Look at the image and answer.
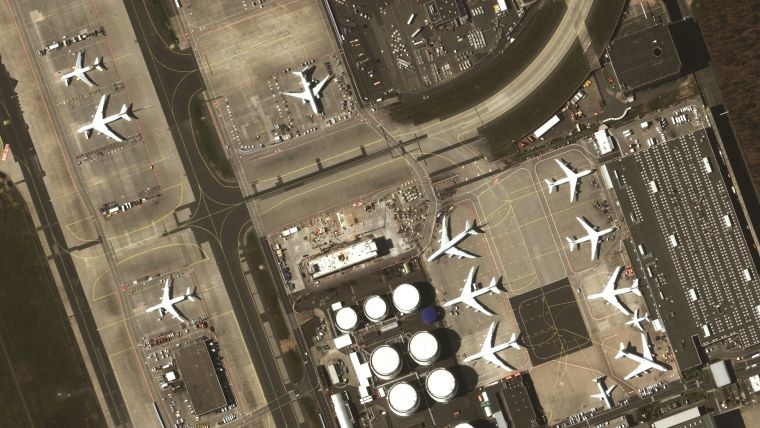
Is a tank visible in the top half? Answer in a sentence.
No, there's no tank to be seen in the top half.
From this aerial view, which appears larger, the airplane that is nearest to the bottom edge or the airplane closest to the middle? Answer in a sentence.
The airplane that is nearest to the bottom edge is smaller than the airplane closest to the middle.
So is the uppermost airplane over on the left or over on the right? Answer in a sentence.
The uppermost airplane sits on the left side.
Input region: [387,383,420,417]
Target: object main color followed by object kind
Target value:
white storage tank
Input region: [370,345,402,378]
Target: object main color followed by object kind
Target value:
white storage tank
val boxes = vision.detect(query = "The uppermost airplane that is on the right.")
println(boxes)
[543,157,593,202]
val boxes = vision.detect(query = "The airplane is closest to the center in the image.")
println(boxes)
[427,214,482,262]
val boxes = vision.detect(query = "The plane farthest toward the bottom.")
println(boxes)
[591,375,618,408]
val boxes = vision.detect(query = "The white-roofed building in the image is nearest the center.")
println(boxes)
[309,241,379,279]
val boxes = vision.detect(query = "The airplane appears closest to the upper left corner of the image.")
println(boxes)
[63,50,105,86]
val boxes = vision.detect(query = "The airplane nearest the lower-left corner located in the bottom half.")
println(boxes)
[146,278,196,324]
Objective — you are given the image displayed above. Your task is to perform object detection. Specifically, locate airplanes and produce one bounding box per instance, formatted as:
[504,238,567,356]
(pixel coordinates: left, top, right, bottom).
[146,278,196,324]
[543,157,593,202]
[615,333,671,383]
[566,216,615,260]
[427,214,482,262]
[626,309,649,331]
[591,375,618,408]
[280,66,330,113]
[588,265,641,315]
[444,266,501,317]
[464,322,522,373]
[79,95,133,143]
[63,50,105,86]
